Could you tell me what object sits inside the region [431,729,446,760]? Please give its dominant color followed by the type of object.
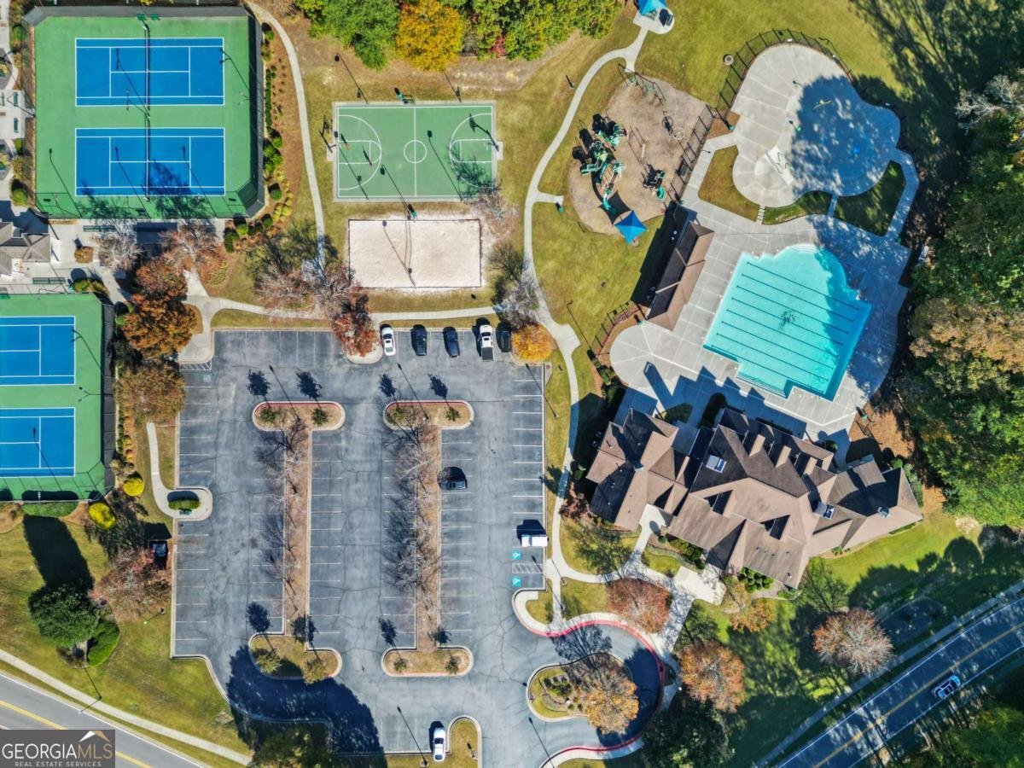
white car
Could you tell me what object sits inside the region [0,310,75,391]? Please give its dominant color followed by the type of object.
blue tennis court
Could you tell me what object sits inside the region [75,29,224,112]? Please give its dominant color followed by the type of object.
blue tennis court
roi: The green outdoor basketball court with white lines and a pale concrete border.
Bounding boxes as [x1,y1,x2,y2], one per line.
[327,101,503,201]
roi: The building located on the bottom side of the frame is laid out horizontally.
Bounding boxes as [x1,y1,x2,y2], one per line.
[584,406,921,582]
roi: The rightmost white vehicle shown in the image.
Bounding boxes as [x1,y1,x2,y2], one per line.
[519,536,547,550]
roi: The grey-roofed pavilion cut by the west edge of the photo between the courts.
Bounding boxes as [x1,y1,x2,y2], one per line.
[0,215,63,292]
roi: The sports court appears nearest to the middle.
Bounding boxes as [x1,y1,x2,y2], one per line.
[349,217,482,288]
